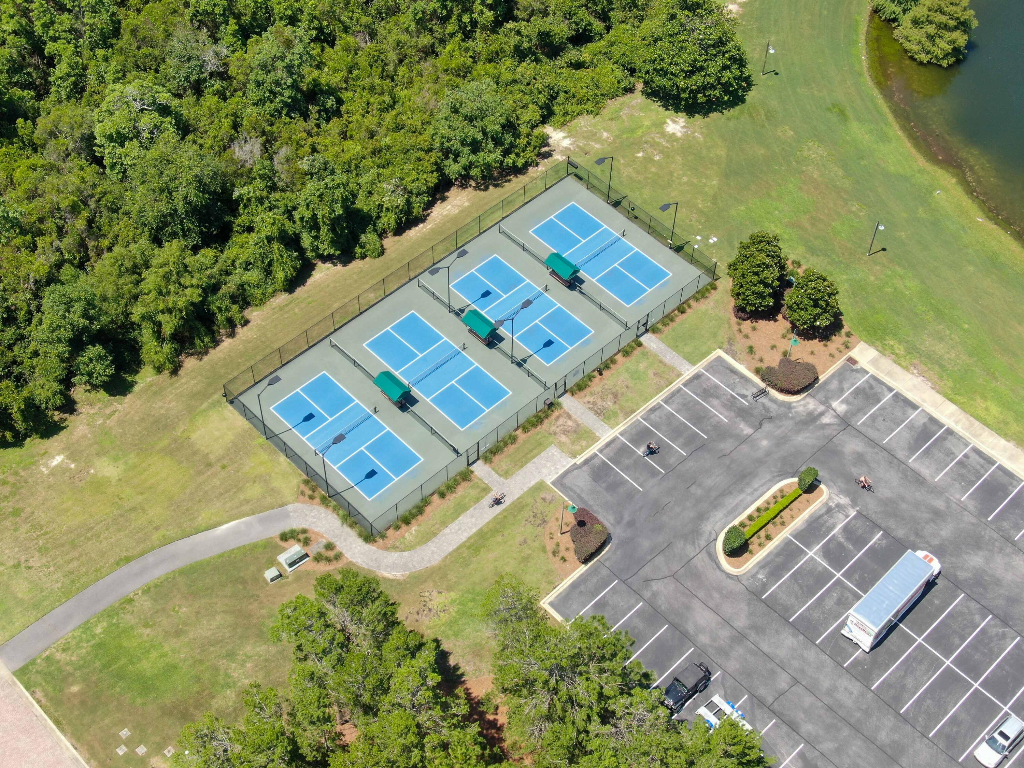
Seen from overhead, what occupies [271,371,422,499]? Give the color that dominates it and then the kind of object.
blue sports court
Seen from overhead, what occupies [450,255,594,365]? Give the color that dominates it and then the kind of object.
blue sports court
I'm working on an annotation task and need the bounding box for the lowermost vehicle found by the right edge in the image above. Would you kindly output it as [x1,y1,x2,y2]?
[976,711,1024,766]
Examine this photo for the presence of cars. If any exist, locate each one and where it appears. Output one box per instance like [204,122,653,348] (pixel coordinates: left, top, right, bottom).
[976,711,1024,766]
[661,660,708,709]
